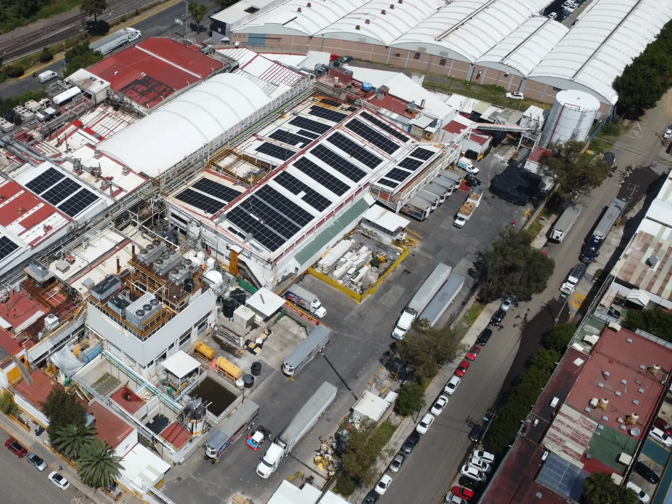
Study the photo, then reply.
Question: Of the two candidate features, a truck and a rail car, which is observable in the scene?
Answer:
truck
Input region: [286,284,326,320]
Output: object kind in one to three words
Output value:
truck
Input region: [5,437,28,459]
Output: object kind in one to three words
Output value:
car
